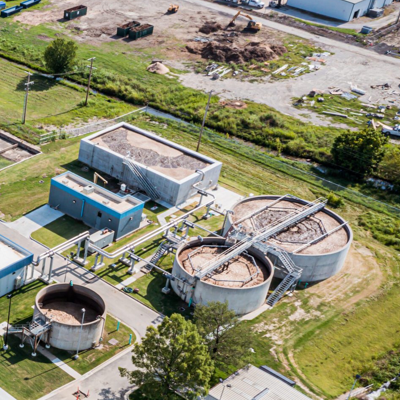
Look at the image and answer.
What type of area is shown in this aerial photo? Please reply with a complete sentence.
What you see here is an industrial area.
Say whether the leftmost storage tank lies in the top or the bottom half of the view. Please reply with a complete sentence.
The bottom half of the photo is where the leftmost storage tank is.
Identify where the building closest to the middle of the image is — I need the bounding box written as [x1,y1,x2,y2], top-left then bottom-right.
[49,170,150,243]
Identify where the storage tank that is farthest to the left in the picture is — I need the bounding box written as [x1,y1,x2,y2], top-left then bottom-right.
[8,276,113,351]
